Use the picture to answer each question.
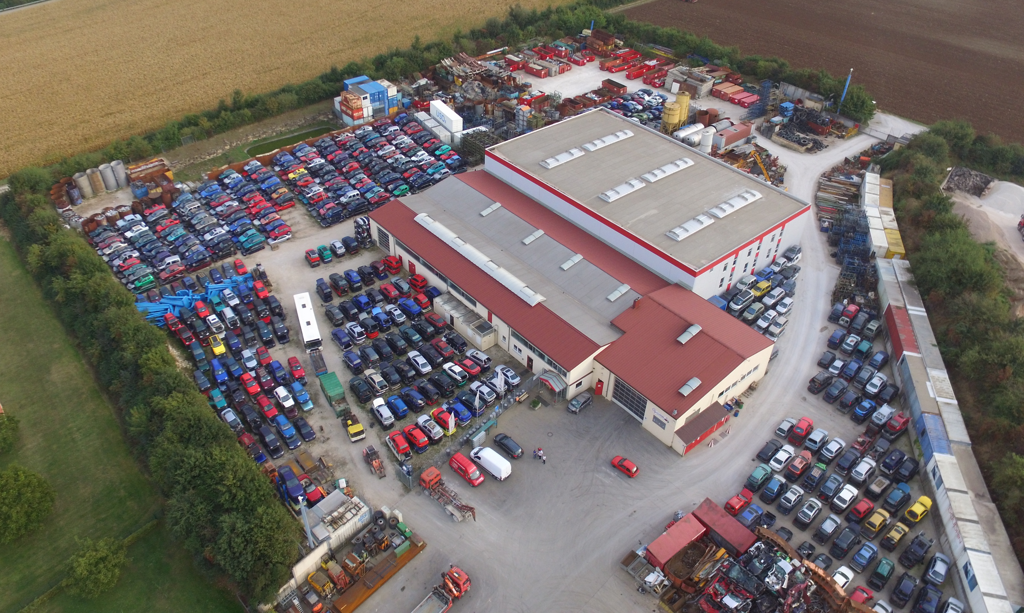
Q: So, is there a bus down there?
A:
Yes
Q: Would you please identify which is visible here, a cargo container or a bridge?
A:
cargo container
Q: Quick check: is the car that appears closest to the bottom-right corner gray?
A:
Yes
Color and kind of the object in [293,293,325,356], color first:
white bus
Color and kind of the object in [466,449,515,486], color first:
white van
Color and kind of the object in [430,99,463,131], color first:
white shipping container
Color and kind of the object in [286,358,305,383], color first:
red car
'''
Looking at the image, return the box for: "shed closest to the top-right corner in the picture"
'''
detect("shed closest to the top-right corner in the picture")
[885,134,914,153]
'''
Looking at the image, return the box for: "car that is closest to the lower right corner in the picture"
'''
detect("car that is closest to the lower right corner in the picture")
[937,592,966,613]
